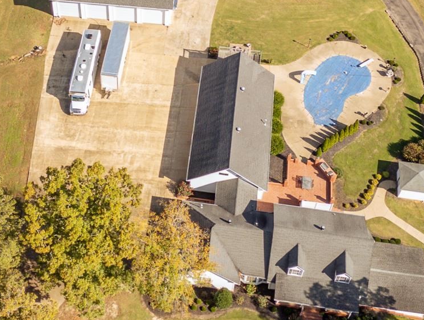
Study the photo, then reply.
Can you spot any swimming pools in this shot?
Yes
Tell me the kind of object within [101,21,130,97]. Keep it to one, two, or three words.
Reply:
trailer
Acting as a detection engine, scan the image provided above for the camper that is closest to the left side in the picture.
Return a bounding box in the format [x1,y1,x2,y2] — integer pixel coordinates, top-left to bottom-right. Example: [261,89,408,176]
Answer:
[66,30,101,118]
